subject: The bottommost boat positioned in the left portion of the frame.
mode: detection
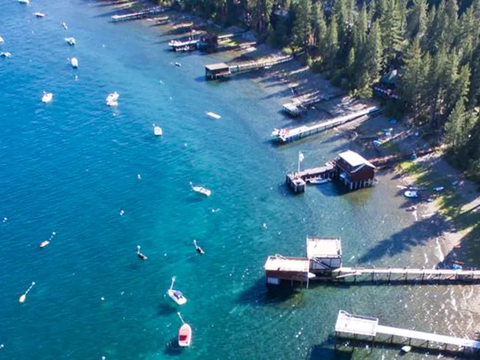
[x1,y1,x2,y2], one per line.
[178,322,192,351]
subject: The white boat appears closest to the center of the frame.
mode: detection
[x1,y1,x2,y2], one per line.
[192,185,213,197]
